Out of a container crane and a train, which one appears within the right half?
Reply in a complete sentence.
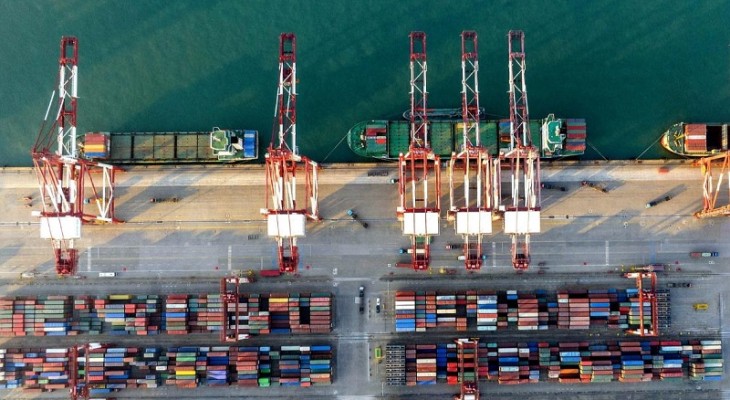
The feature located within the right half is a container crane.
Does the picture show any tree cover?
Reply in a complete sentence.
No, the picture contains no tree cover.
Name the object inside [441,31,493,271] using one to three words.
container crane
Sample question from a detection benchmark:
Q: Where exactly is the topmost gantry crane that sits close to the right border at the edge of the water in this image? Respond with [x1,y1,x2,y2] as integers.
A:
[694,153,730,217]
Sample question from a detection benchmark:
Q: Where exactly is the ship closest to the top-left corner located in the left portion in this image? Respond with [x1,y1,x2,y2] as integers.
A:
[76,125,259,162]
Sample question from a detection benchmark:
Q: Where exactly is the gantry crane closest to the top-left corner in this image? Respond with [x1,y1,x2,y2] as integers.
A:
[34,36,125,276]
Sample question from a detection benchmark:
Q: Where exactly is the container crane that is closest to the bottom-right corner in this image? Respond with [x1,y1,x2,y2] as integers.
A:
[624,272,657,338]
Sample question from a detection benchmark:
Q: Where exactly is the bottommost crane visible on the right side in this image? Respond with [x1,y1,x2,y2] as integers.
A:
[450,333,483,400]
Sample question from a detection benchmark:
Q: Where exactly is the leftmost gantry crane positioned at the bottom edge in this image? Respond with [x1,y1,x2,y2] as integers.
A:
[72,337,110,400]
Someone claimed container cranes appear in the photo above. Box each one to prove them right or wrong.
[34,36,125,276]
[487,31,541,271]
[624,272,657,338]
[72,337,110,400]
[694,153,730,217]
[222,277,253,343]
[389,31,443,272]
[256,33,323,273]
[450,333,483,400]
[441,31,493,271]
